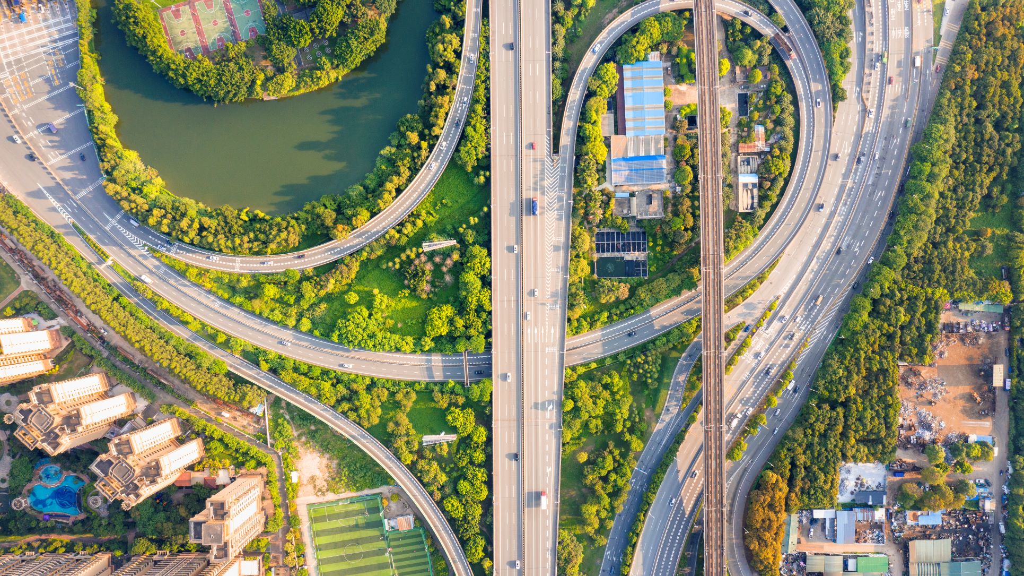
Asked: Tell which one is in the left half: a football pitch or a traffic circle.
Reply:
football pitch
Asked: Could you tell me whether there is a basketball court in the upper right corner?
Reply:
No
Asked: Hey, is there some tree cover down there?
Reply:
Yes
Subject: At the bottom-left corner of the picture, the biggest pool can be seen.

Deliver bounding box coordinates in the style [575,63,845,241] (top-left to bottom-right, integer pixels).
[27,474,86,515]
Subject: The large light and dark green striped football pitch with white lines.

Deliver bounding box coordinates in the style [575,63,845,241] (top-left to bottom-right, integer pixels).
[311,497,393,576]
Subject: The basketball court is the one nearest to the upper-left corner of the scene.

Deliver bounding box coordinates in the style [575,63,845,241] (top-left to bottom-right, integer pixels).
[163,6,203,60]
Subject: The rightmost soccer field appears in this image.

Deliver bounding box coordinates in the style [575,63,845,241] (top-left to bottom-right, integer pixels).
[389,529,431,576]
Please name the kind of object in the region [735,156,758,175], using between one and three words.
shed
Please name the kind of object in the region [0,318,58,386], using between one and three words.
building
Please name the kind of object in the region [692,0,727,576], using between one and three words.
bridge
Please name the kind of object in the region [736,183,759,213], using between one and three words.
shed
